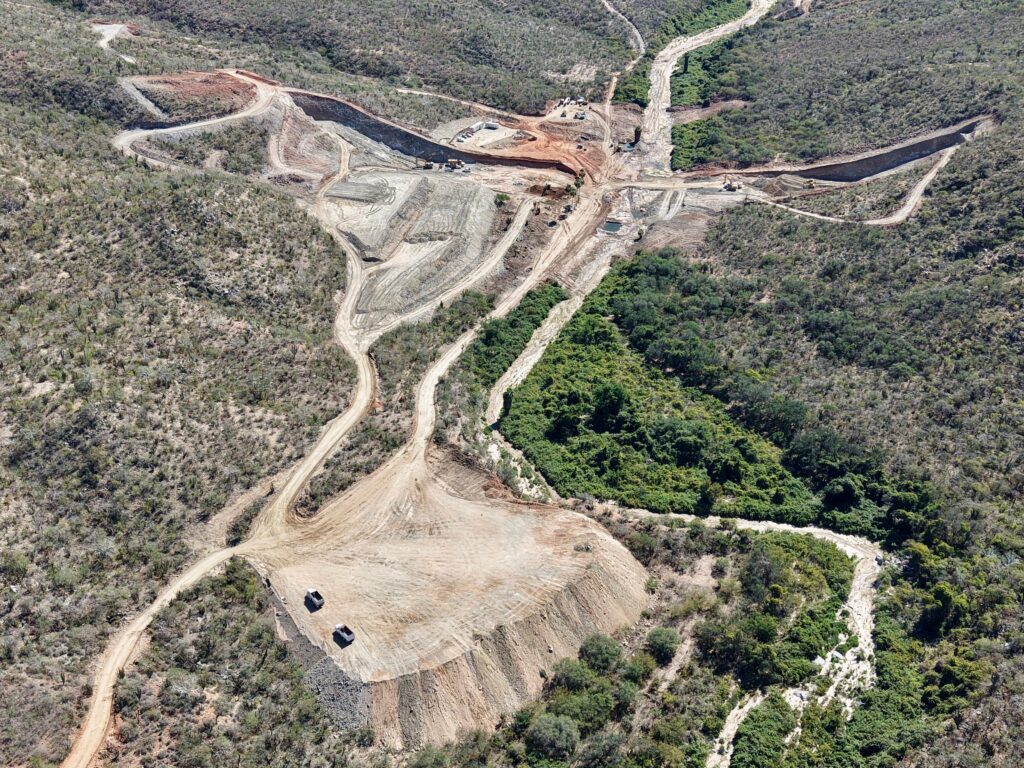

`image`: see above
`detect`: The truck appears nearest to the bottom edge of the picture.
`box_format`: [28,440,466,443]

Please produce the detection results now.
[331,624,352,647]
